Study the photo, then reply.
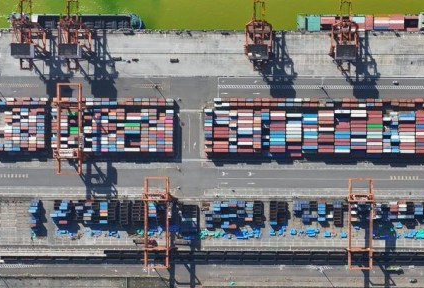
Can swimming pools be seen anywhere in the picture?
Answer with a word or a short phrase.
No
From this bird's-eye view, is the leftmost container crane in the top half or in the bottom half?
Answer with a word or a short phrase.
top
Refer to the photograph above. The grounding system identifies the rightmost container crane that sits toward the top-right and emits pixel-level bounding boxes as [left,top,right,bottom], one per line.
[328,0,360,71]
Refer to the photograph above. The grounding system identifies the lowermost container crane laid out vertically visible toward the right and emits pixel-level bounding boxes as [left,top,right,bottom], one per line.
[340,177,375,268]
